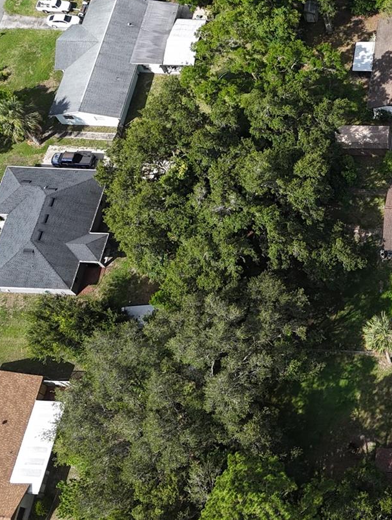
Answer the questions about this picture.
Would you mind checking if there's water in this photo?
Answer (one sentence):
No, there's no water in this view.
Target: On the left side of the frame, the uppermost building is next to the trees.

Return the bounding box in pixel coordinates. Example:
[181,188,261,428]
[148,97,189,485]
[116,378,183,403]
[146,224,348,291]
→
[46,0,204,124]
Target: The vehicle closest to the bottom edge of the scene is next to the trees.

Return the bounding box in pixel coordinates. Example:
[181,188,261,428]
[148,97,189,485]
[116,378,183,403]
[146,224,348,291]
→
[51,150,95,168]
